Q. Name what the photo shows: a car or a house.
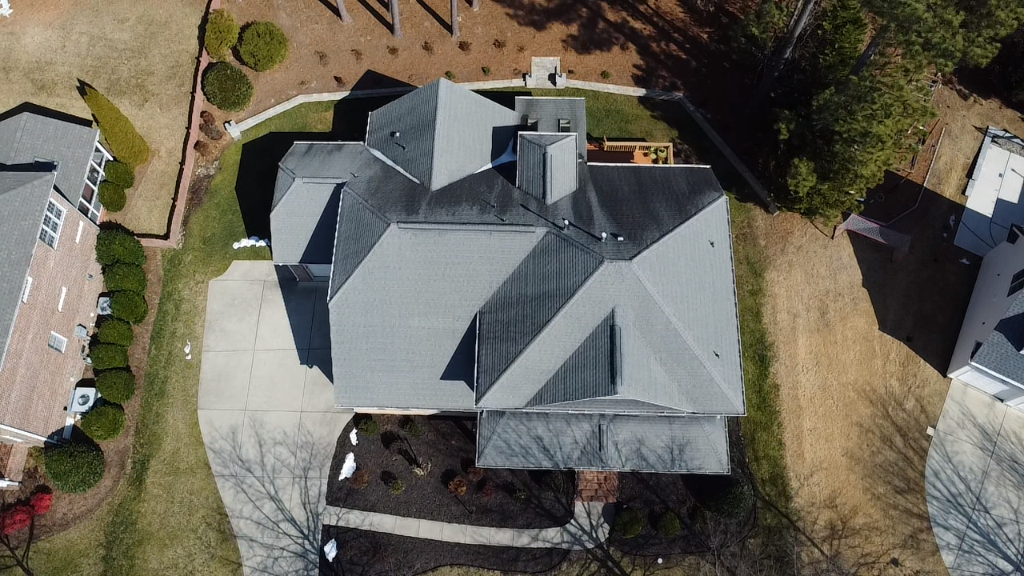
house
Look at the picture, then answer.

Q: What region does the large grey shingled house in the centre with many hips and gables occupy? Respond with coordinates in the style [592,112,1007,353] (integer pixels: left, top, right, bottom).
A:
[267,75,748,478]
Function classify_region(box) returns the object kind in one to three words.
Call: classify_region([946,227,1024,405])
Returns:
house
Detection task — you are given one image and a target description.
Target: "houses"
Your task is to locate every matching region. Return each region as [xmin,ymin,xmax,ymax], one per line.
[0,110,112,492]
[946,227,1024,405]
[267,75,748,478]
